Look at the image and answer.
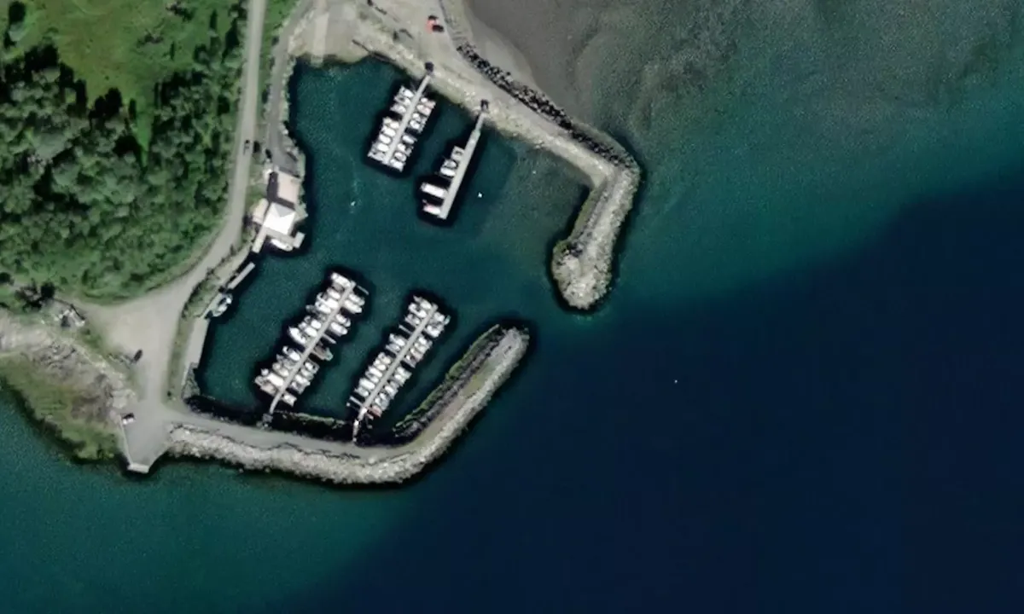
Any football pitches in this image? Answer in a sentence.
No, the photo shows no football pitch.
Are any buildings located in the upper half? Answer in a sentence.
Yes, you'll find a building in the upper half.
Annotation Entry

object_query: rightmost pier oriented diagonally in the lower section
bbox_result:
[350,298,450,439]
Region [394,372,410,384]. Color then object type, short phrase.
white boat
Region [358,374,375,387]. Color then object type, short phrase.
white boat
